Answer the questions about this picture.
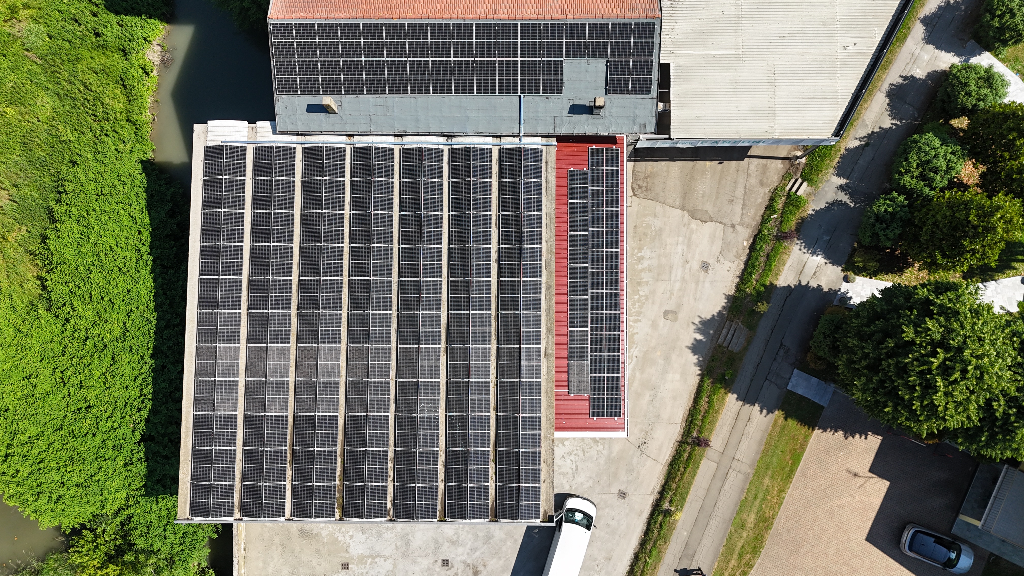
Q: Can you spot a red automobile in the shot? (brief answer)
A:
No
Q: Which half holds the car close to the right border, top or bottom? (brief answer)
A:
bottom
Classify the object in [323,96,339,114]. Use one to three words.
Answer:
chimney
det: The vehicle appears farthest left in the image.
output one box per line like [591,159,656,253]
[543,492,597,576]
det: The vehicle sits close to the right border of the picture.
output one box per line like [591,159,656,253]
[895,523,973,573]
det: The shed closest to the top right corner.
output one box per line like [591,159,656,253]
[656,0,915,162]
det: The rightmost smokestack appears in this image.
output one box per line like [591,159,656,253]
[591,97,606,116]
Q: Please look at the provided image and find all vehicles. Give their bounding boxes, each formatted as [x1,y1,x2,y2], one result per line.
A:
[895,523,973,573]
[543,492,597,576]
